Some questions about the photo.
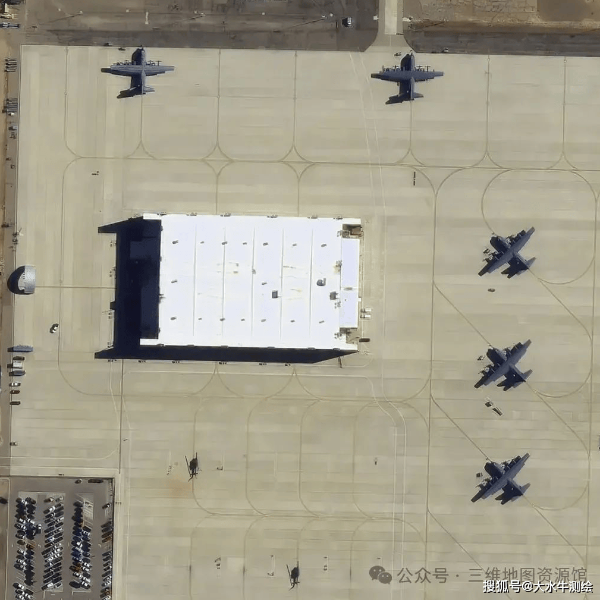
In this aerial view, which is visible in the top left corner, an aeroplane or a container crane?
aeroplane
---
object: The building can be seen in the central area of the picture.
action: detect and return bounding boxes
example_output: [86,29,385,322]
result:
[131,214,361,351]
